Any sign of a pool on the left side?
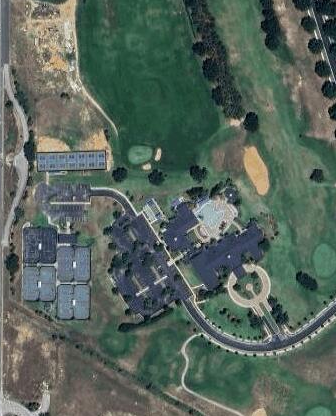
No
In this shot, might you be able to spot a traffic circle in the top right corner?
No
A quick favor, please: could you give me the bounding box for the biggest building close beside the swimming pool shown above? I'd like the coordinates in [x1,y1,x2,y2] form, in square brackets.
[180,225,269,297]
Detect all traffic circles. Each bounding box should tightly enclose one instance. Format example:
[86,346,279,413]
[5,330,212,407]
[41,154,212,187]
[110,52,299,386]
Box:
[228,262,271,308]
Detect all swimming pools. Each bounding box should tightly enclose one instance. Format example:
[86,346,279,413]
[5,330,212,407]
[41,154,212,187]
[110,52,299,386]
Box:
[194,195,236,242]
